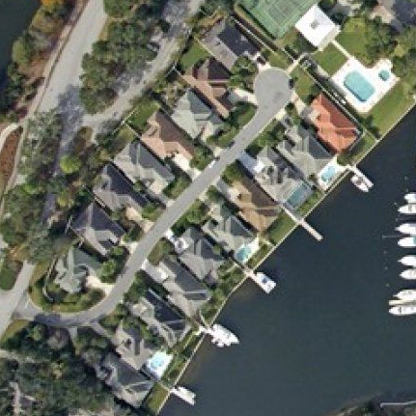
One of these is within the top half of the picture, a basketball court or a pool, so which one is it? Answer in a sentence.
What appears within the top half of the picture is a pool.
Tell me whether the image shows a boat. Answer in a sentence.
Yes, there's a boat down there.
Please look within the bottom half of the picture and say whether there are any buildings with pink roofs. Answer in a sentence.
No, there is no building with a pink roof within the bottom half of the picture.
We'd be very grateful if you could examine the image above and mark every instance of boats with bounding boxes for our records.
[401,268,416,279]
[389,306,416,317]
[353,176,370,192]
[400,203,416,214]
[396,223,416,235]
[178,386,195,400]
[213,324,239,343]
[398,236,416,247]
[405,192,416,202]
[400,256,416,267]
[257,272,275,291]
[394,289,416,299]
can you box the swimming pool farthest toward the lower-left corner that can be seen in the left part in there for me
[146,351,173,379]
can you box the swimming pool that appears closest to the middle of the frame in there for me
[235,237,259,263]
